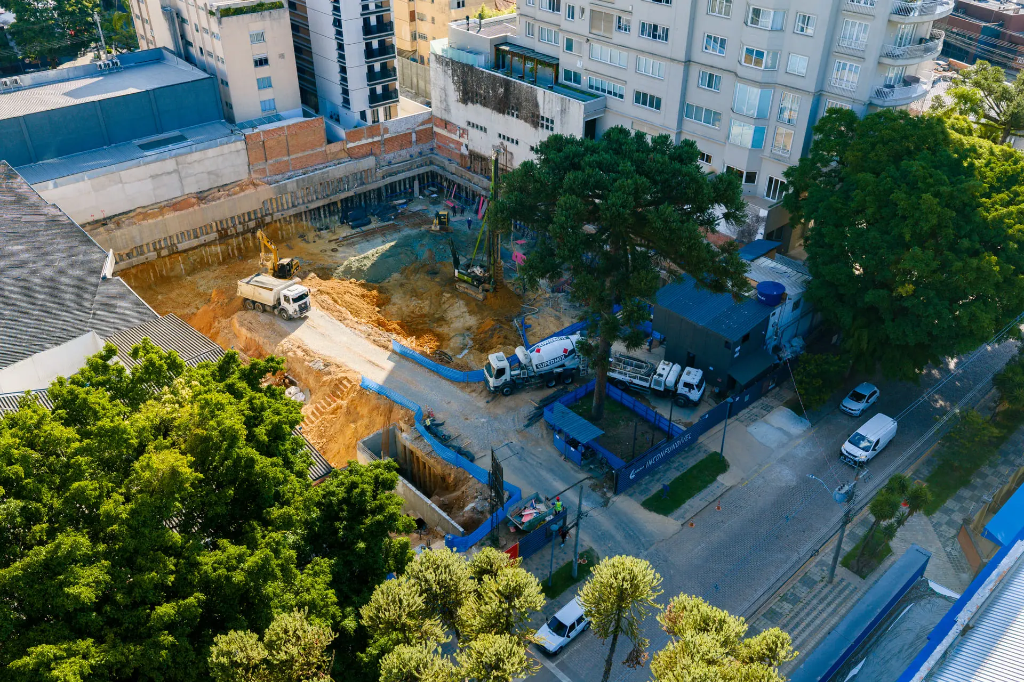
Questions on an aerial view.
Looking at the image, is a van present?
Yes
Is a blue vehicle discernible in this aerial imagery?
Yes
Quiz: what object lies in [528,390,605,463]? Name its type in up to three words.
shed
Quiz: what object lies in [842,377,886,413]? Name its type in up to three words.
car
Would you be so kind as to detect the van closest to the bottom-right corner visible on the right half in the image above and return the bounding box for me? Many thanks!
[847,406,905,462]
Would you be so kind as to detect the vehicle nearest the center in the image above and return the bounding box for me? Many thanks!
[483,335,587,395]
